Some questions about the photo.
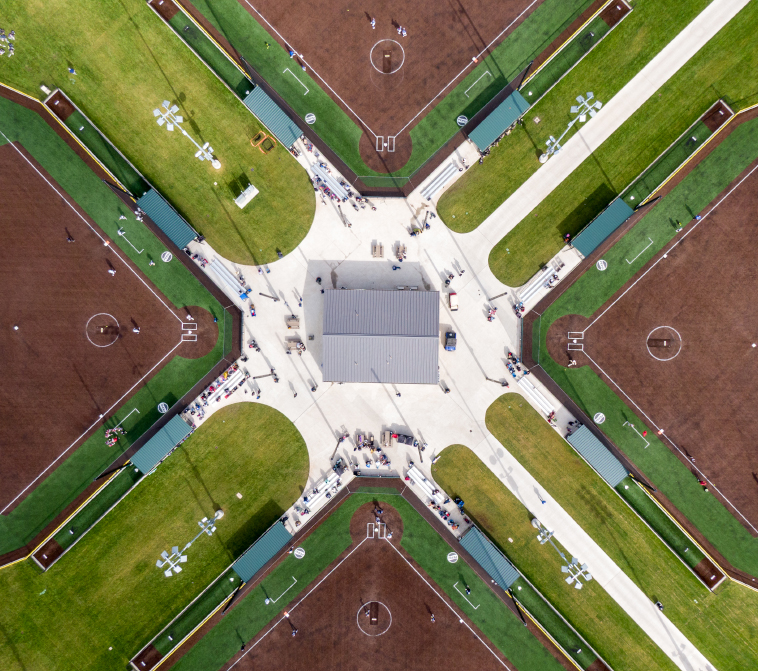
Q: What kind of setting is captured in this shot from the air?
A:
sports ground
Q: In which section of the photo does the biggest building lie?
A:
center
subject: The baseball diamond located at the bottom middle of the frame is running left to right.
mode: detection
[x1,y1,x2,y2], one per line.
[152,478,583,671]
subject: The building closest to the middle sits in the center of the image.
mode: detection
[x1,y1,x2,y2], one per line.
[321,289,439,385]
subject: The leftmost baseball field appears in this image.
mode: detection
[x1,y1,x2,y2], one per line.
[0,84,241,567]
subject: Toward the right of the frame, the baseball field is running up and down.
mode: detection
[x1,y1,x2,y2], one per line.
[522,106,758,590]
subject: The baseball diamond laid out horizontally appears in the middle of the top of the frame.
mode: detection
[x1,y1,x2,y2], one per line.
[175,0,611,196]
